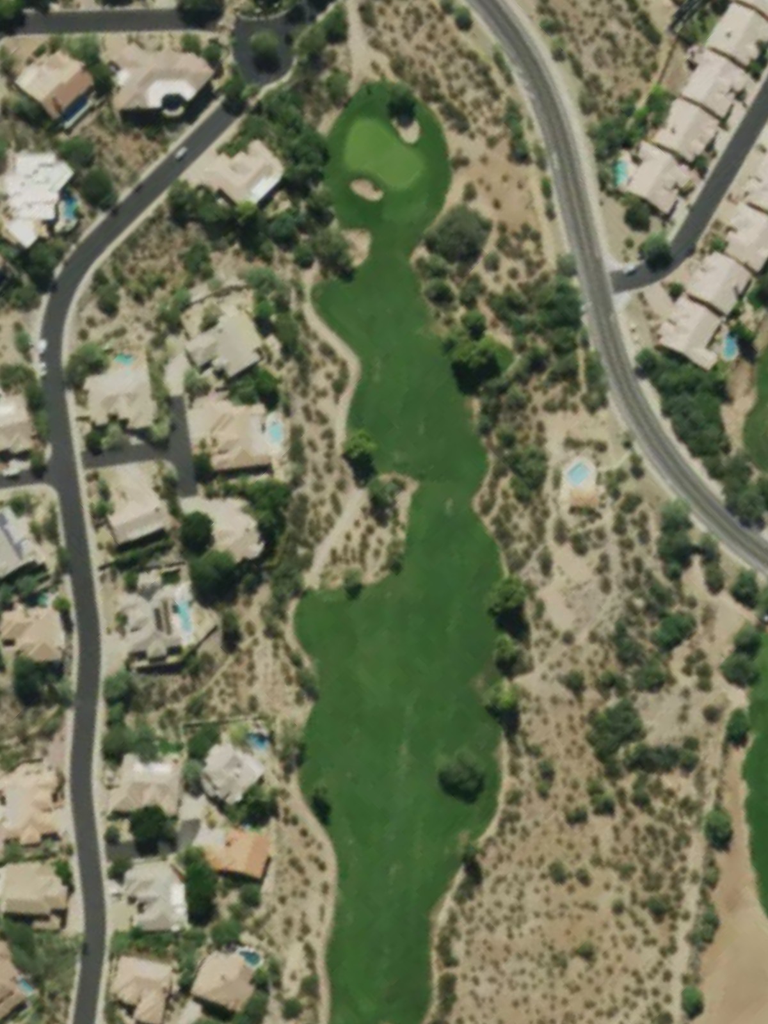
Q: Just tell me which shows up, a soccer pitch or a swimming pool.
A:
swimming pool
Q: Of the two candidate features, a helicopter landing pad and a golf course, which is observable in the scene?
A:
golf course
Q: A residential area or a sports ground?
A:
residential area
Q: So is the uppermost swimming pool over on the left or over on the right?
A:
left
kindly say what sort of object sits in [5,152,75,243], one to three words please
house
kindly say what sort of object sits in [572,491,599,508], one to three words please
building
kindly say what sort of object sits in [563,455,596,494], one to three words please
swimming pool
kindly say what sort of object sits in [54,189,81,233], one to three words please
swimming pool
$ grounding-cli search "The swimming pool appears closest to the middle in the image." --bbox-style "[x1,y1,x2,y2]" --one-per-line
[267,410,286,450]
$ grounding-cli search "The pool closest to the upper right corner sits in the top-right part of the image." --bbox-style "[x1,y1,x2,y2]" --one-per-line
[611,154,634,190]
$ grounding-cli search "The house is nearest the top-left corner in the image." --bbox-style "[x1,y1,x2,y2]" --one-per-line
[20,49,92,120]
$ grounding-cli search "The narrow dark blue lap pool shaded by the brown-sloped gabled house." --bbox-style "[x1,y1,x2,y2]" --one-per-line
[63,95,97,127]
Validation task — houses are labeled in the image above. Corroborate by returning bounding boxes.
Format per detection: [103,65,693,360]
[198,742,266,804]
[84,370,160,430]
[680,47,750,116]
[706,0,768,68]
[5,152,75,243]
[204,827,268,879]
[0,770,63,845]
[0,393,39,453]
[203,495,265,560]
[126,862,187,931]
[0,940,31,1018]
[649,94,719,164]
[656,296,723,367]
[204,139,283,203]
[3,603,65,661]
[190,403,271,472]
[720,203,768,273]
[623,143,692,212]
[2,861,67,912]
[107,755,186,821]
[108,47,219,109]
[20,49,92,120]
[106,463,172,542]
[185,313,262,372]
[0,503,47,570]
[751,164,768,209]
[113,956,173,1024]
[122,588,182,658]
[688,250,756,319]
[192,945,255,1013]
